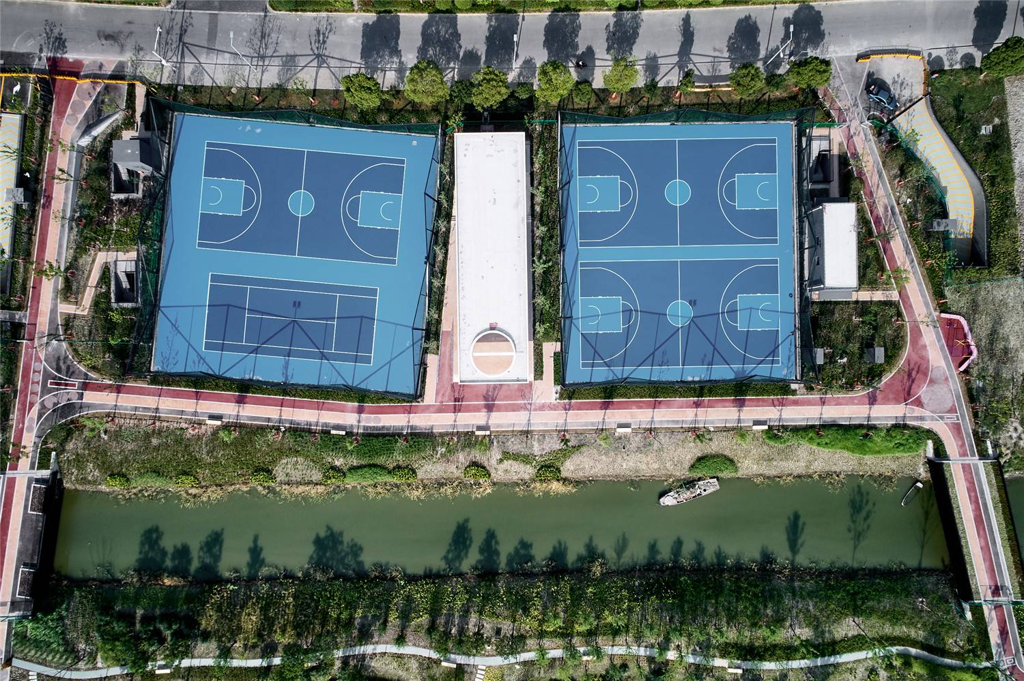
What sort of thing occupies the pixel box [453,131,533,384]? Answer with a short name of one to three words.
building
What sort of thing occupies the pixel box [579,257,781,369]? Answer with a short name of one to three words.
basketball court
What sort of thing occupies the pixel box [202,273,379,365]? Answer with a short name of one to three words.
tennis court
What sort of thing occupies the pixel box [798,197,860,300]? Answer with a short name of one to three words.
building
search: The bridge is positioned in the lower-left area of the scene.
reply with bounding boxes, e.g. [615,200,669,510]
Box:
[0,469,62,619]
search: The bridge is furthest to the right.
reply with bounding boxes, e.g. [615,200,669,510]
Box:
[924,457,1024,681]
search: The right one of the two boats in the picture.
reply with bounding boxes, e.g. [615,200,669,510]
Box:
[901,481,924,506]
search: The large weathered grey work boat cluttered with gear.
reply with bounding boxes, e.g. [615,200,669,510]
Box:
[659,478,720,505]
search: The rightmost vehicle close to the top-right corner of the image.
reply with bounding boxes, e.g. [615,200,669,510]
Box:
[869,82,902,109]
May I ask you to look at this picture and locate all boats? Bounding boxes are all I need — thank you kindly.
[659,478,720,505]
[901,481,924,506]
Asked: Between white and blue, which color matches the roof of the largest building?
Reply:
white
